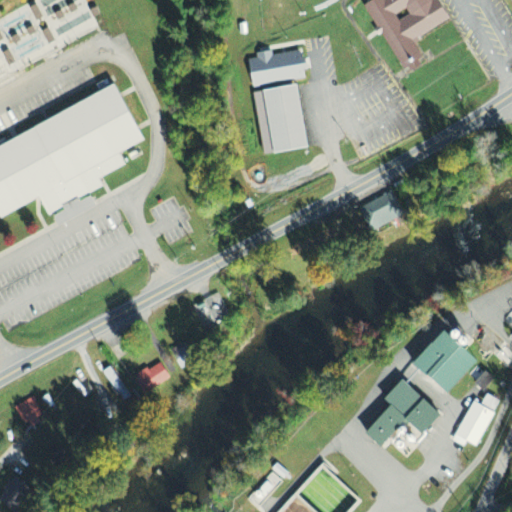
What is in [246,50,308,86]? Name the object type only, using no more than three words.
building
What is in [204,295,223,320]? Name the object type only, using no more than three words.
house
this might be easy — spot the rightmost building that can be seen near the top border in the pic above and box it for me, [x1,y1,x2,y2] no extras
[366,0,448,68]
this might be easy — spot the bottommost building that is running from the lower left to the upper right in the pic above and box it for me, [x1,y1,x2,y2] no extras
[249,472,282,506]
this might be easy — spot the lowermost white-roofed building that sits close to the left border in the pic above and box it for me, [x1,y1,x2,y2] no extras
[0,78,143,214]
